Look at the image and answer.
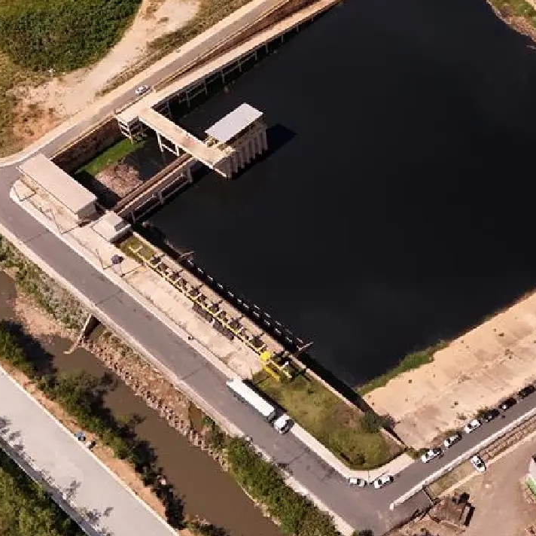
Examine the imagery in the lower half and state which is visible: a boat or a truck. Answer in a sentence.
The one visible in the lower half is a truck.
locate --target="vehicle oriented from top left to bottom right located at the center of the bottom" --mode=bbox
[230,378,286,431]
